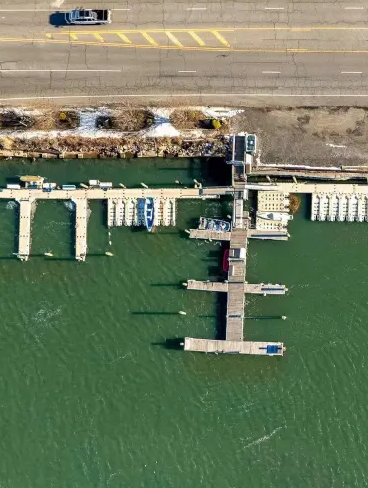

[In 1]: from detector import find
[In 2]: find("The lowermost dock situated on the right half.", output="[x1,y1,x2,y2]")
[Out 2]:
[184,211,289,356]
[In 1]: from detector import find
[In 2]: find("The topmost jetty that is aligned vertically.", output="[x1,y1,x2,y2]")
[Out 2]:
[226,136,249,191]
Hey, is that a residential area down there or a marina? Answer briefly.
marina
